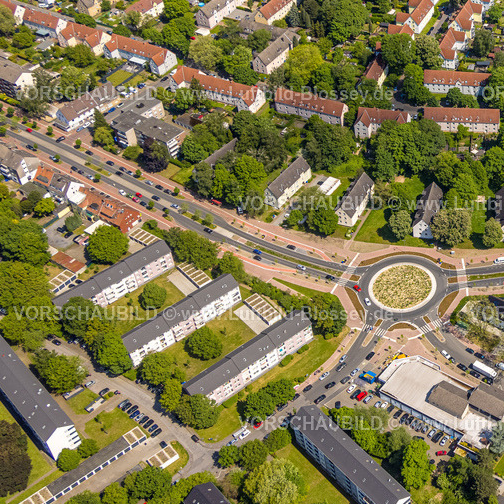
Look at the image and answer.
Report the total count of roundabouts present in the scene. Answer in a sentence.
In total, there is 1 roundabout in the scene.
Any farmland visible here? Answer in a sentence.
No, farmland can't be seen anywhere here.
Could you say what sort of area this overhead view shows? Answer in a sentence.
This looks like a residential area.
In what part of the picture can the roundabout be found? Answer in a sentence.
The roundabout is in the right part of the image.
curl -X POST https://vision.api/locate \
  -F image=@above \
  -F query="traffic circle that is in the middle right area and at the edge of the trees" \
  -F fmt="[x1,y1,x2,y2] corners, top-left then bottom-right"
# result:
[358,255,448,320]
